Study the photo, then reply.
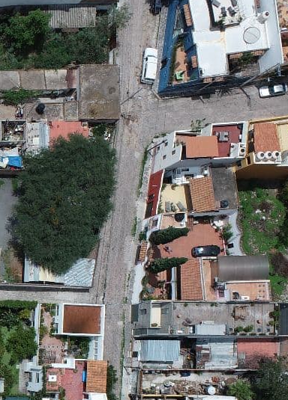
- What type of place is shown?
residential area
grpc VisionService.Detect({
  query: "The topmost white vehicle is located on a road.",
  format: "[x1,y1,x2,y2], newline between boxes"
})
[142,48,158,83]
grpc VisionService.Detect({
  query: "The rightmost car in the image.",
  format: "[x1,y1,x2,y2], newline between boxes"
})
[258,82,287,97]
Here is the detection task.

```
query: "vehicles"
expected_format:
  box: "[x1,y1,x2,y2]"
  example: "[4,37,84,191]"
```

[142,48,158,83]
[190,244,219,257]
[258,82,287,97]
[151,0,164,16]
